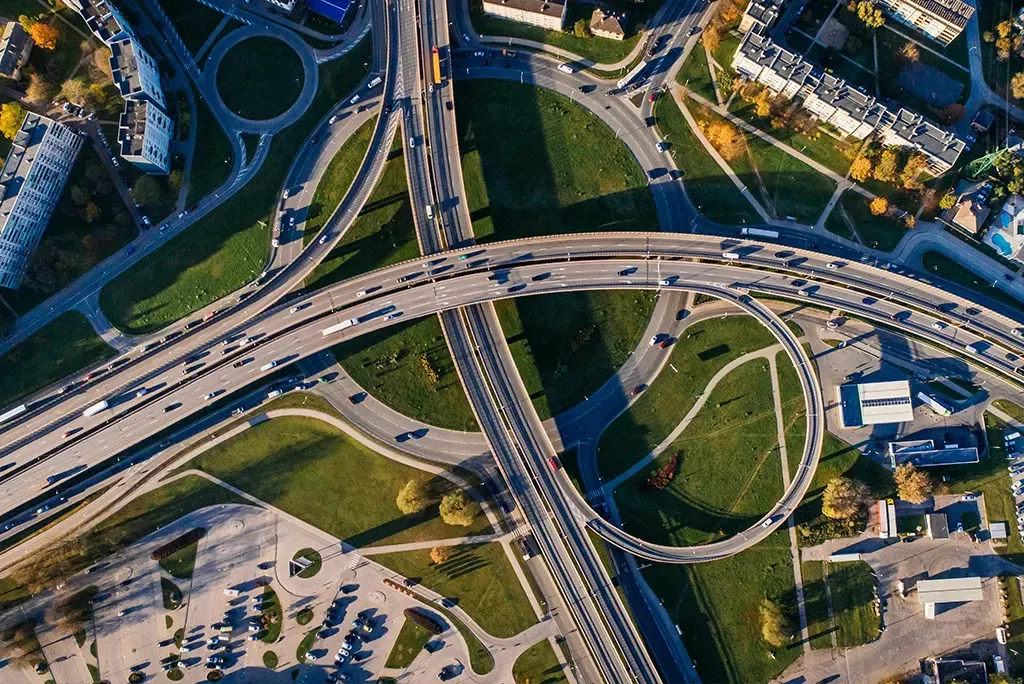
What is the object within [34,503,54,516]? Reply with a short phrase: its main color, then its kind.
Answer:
blue vehicle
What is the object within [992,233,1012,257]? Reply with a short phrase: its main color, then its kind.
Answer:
blue swimming pool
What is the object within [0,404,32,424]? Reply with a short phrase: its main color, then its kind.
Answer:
white vehicle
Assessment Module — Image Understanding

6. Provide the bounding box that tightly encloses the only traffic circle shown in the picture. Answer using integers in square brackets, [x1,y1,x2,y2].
[202,21,316,135]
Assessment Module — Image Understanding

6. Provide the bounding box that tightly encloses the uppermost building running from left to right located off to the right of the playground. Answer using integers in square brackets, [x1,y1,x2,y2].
[867,0,976,46]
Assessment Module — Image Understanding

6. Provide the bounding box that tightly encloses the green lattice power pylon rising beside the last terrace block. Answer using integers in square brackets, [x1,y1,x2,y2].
[967,27,1014,171]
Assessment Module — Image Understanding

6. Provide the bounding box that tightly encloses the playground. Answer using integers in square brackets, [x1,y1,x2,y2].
[815,18,848,52]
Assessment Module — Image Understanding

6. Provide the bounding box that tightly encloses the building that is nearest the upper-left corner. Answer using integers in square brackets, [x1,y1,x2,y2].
[0,22,42,83]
